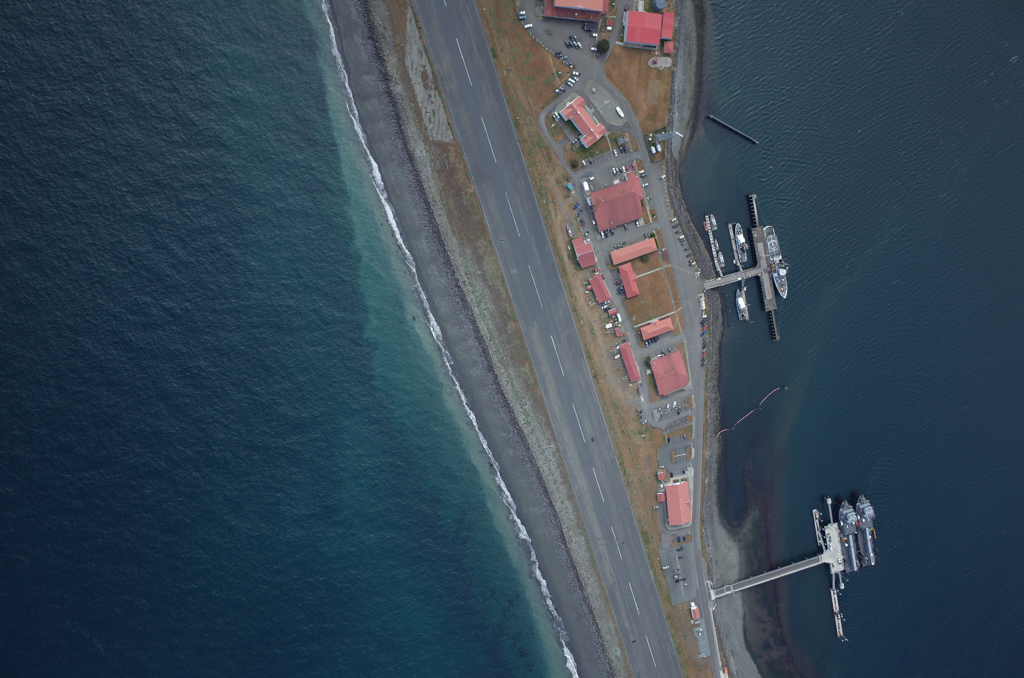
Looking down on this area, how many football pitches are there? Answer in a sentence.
Not a single football pitch can be seen.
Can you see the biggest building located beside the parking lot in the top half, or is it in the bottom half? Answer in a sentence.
The biggest building located beside the parking lot is in the bottom half of the image.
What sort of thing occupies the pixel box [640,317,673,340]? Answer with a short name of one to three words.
building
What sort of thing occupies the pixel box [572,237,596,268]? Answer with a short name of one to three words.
building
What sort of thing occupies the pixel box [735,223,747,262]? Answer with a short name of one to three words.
ship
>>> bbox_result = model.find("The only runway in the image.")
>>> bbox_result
[413,0,685,678]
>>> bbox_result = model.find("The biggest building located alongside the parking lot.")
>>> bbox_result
[664,480,691,525]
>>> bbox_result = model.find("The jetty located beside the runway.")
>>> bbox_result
[715,553,820,599]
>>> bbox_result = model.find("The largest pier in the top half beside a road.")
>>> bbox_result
[746,226,777,313]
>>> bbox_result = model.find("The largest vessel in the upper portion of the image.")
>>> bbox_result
[764,226,791,298]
